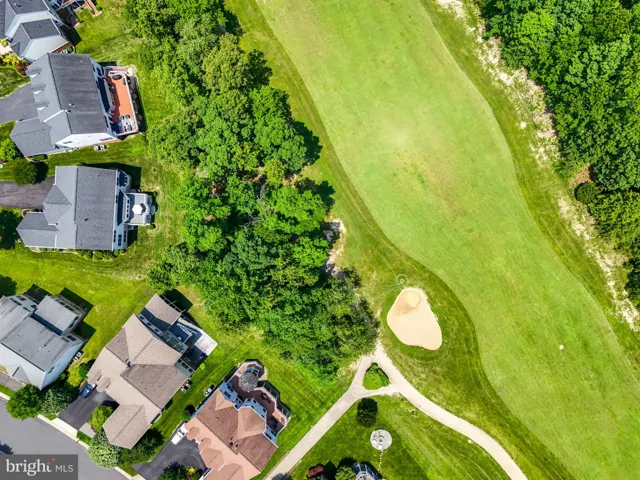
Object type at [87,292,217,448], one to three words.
house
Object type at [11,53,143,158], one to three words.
house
